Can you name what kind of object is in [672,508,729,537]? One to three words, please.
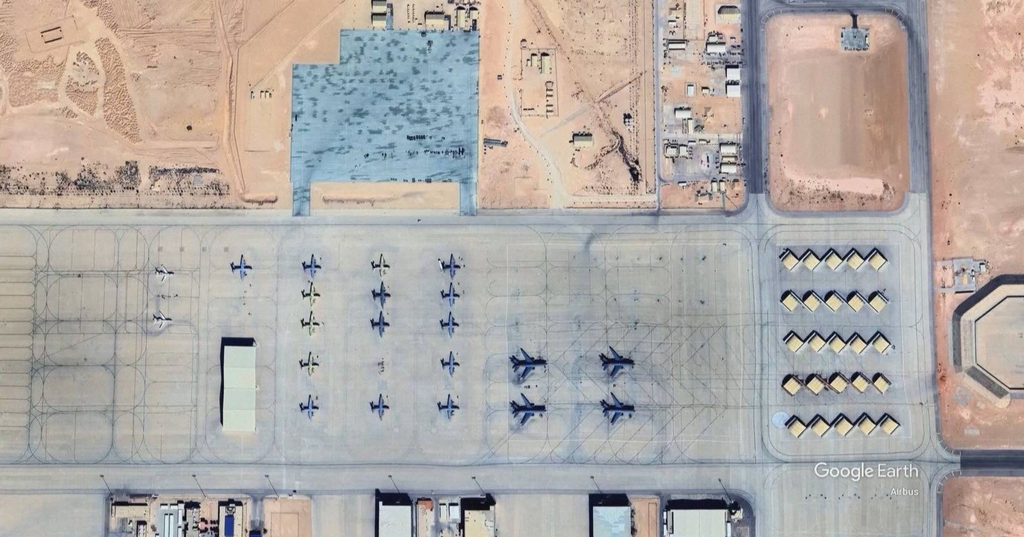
hangar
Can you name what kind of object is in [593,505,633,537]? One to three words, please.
hangar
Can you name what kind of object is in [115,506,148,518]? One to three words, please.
building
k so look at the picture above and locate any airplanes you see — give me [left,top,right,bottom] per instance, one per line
[300,312,319,338]
[370,255,390,281]
[600,347,635,379]
[371,283,390,309]
[299,396,318,422]
[369,395,389,421]
[511,392,546,424]
[232,256,252,282]
[440,395,459,421]
[440,283,459,309]
[600,392,634,424]
[301,255,321,281]
[510,348,547,379]
[300,283,320,309]
[299,353,319,379]
[153,264,173,281]
[439,312,459,338]
[370,313,389,338]
[151,311,171,328]
[440,353,459,378]
[441,255,460,281]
